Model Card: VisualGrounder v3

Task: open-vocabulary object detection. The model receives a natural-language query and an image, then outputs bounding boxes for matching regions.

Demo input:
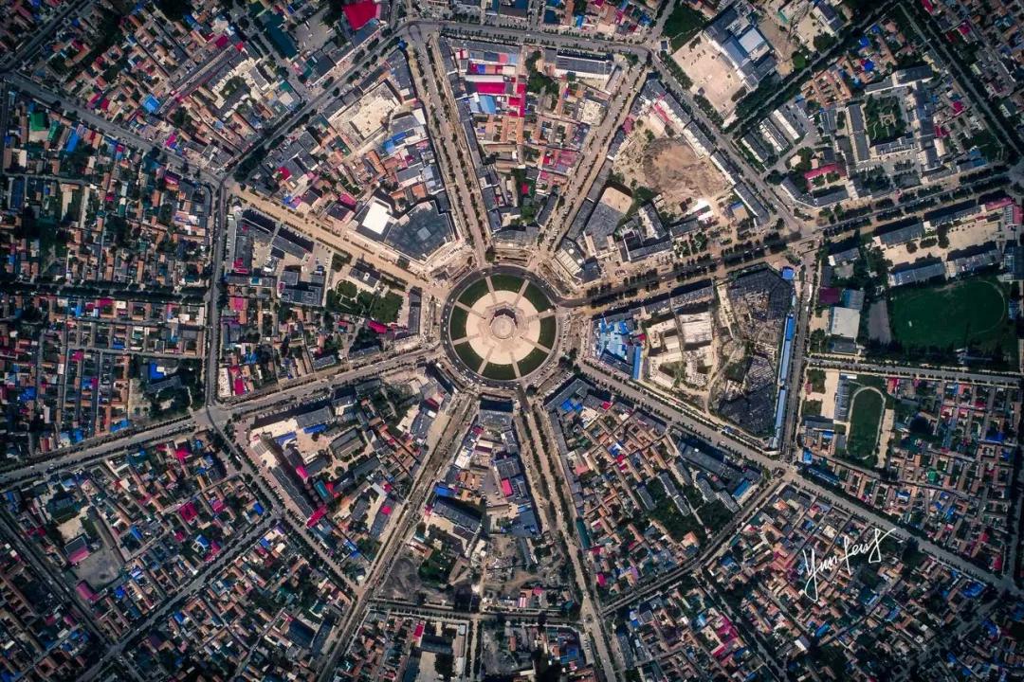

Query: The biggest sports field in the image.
[891,276,1012,355]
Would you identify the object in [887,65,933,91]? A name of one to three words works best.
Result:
building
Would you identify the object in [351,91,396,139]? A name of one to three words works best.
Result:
building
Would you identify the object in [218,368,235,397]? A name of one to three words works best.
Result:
shed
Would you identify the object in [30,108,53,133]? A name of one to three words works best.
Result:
shed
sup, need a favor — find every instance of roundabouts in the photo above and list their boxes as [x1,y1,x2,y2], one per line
[440,264,566,390]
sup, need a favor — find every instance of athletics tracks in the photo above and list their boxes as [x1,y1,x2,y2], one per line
[839,374,888,468]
